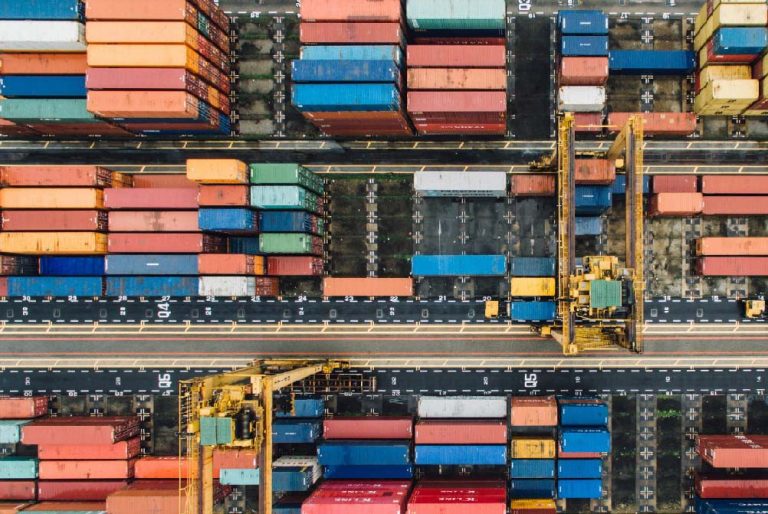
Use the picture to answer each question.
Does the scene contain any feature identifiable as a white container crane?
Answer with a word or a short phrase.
No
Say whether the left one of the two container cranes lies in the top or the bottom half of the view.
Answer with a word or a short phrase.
bottom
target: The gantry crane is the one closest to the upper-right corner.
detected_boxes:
[523,111,646,355]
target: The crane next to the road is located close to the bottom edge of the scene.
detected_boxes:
[170,360,358,514]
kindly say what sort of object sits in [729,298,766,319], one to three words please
vehicle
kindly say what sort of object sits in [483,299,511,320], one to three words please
vehicle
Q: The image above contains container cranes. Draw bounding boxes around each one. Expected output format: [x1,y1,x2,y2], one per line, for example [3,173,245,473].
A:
[170,360,358,514]
[523,111,646,355]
